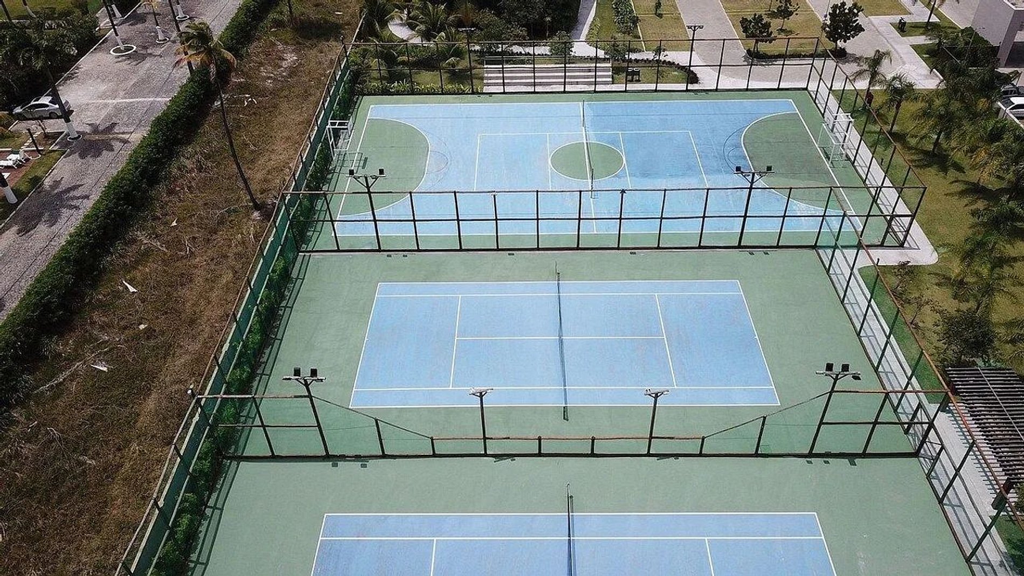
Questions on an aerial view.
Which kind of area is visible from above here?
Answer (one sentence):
This image shows a sports ground.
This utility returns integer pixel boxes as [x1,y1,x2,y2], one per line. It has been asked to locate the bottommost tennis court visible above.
[185,456,974,576]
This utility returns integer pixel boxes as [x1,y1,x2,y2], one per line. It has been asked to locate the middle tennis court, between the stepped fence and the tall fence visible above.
[231,248,913,453]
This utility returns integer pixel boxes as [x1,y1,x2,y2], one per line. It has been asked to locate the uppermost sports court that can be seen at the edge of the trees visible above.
[304,89,901,249]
